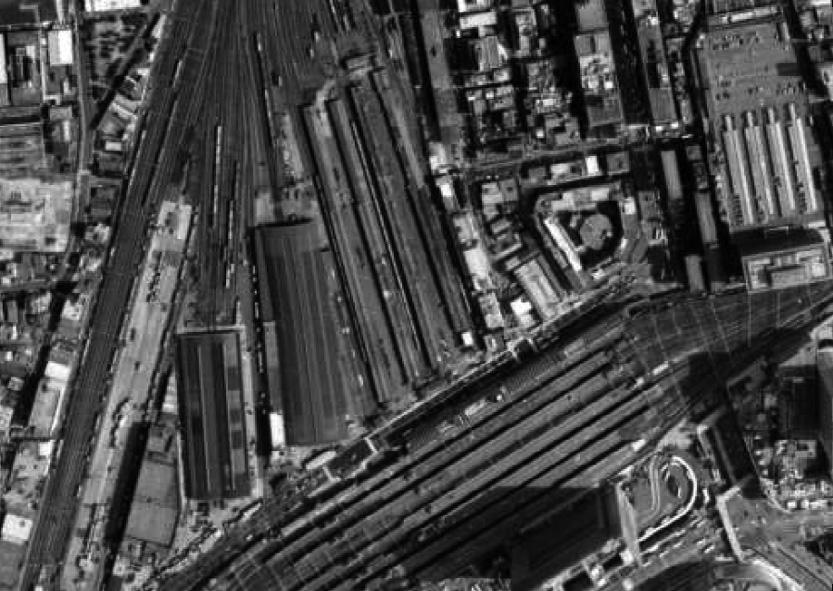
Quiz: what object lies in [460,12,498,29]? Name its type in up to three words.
building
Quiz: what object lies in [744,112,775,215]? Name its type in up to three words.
shed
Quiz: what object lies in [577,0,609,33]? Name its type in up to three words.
building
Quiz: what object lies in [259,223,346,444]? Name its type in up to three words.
shed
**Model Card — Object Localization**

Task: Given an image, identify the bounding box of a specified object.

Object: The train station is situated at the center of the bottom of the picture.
[226,319,656,591]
